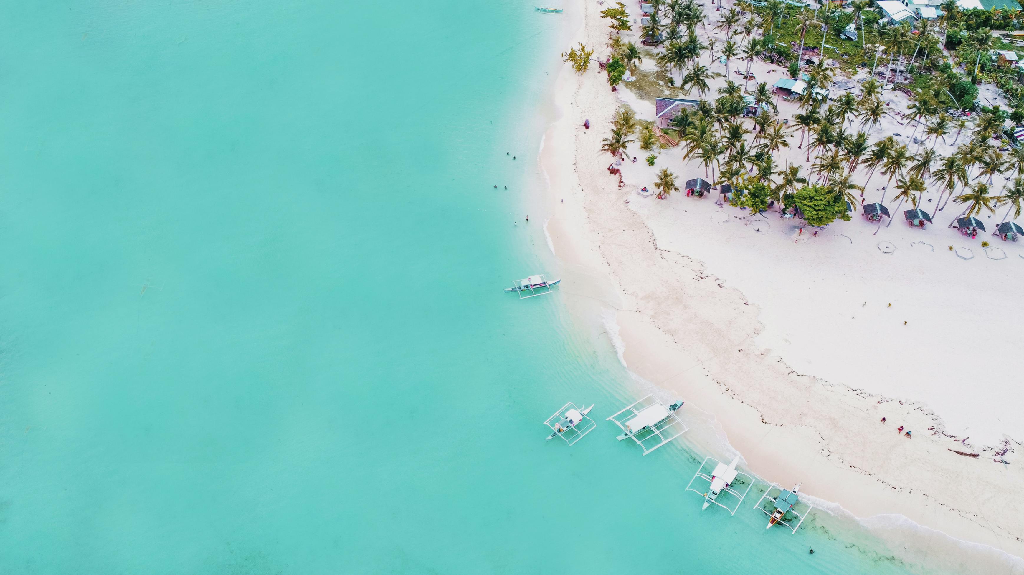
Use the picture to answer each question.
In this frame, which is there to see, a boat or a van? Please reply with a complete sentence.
Of the two, only a boat appears.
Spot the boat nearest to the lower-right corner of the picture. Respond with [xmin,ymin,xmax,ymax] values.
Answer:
[753,483,812,534]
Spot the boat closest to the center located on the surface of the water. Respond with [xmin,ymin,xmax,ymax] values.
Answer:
[503,274,561,299]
